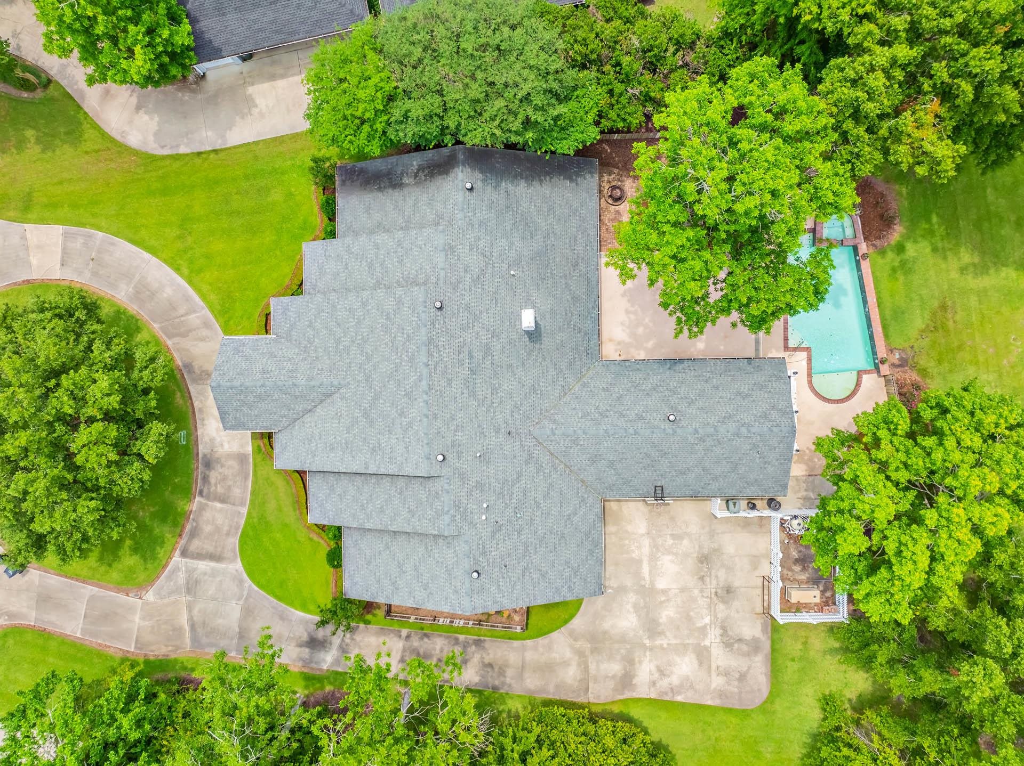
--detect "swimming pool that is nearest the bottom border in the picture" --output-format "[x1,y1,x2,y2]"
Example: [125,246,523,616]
[784,229,880,404]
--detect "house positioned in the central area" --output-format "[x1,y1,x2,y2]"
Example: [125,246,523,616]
[209,146,799,614]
